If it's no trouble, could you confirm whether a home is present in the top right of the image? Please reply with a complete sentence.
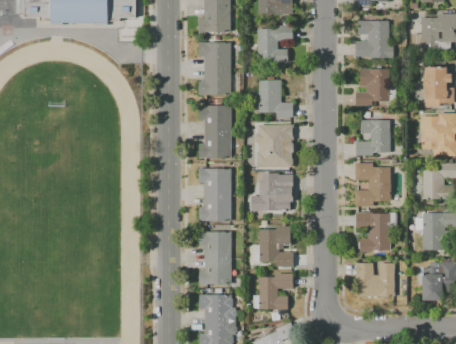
Yes, the scene does show a home in the top right of the image.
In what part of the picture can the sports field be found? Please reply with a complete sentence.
The sports field is located in the left region of the scene.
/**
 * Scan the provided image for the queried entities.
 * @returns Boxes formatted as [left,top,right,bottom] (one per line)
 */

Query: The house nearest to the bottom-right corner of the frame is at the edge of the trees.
[422,262,456,301]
